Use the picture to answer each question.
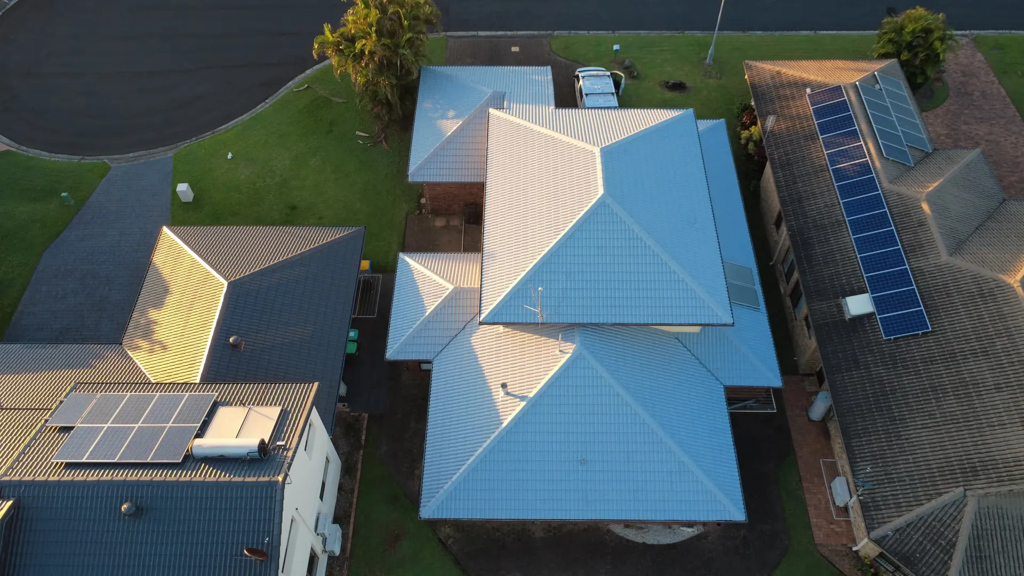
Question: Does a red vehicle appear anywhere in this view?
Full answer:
No, no red vehicle can be seen from above.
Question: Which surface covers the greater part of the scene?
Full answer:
The largest share of the image is taken up by buildings.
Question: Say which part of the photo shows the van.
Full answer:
Look in the top portion of the view to spot the van.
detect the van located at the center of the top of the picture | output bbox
[573,67,623,107]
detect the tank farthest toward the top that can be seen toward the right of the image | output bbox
[801,396,830,428]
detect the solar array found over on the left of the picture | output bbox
[36,392,224,461]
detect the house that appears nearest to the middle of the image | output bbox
[383,64,786,531]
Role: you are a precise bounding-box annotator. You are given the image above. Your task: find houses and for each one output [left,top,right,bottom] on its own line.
[0,224,369,576]
[383,64,786,531]
[742,58,1024,576]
